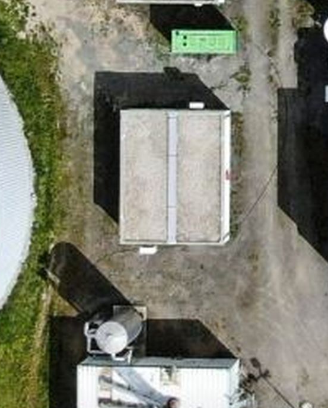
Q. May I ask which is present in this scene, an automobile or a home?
home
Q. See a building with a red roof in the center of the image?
No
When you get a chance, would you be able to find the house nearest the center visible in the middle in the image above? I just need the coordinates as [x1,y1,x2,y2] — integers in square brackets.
[120,103,233,253]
